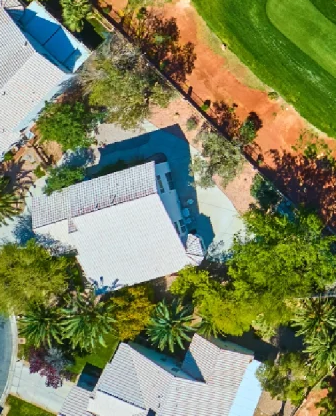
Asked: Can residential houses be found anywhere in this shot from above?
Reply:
Yes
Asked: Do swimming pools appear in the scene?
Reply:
No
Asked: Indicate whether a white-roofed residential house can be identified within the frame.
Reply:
Yes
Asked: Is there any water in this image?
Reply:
No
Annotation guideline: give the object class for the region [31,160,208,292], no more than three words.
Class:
house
